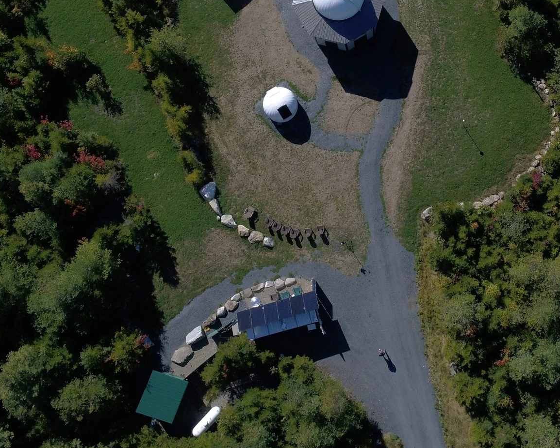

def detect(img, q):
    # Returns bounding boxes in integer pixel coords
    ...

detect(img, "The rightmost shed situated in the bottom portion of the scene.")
[238,291,322,340]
